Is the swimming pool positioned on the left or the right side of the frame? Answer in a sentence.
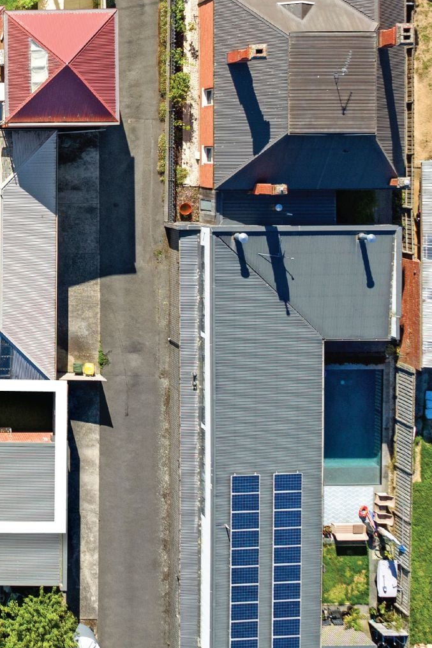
It is on the right.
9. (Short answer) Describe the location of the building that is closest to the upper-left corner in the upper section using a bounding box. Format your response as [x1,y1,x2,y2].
[0,1,121,124]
